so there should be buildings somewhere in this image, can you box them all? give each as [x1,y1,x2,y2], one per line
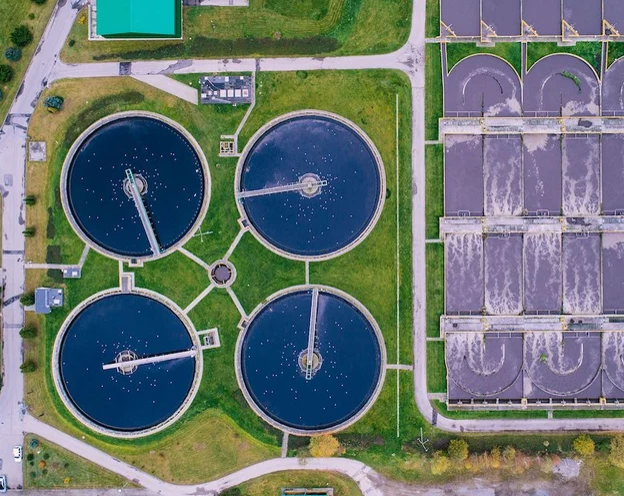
[280,490,328,496]
[63,268,82,277]
[200,77,251,104]
[96,0,180,38]
[35,288,65,313]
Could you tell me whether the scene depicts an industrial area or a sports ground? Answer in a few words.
industrial area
